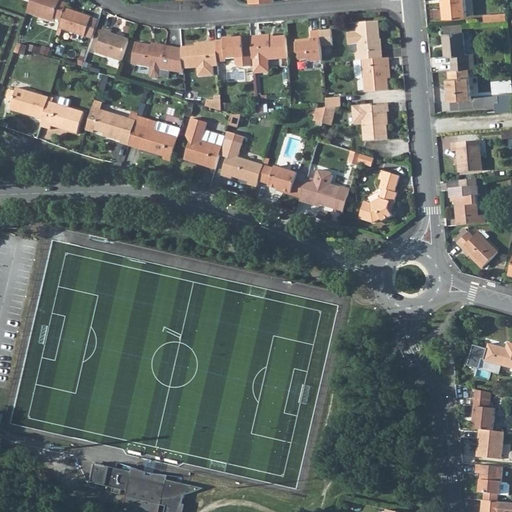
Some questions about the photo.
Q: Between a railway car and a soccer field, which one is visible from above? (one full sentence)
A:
It is a soccer field that can be seen here.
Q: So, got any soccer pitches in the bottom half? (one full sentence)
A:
Yes, the scene does show a soccer pitch in the bottom half.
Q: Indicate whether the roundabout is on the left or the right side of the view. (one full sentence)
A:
The roundabout is on the right side of the image.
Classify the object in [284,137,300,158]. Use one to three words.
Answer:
swimming pool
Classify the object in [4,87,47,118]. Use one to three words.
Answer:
house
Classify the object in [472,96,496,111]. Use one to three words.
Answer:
shed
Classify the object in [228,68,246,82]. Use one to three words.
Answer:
swimming pool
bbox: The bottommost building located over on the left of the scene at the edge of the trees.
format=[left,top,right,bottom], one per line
[90,464,204,512]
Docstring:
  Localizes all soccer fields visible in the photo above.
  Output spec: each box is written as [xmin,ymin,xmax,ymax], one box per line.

[10,242,338,489]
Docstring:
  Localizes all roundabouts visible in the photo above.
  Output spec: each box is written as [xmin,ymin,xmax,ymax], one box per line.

[376,244,444,312]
